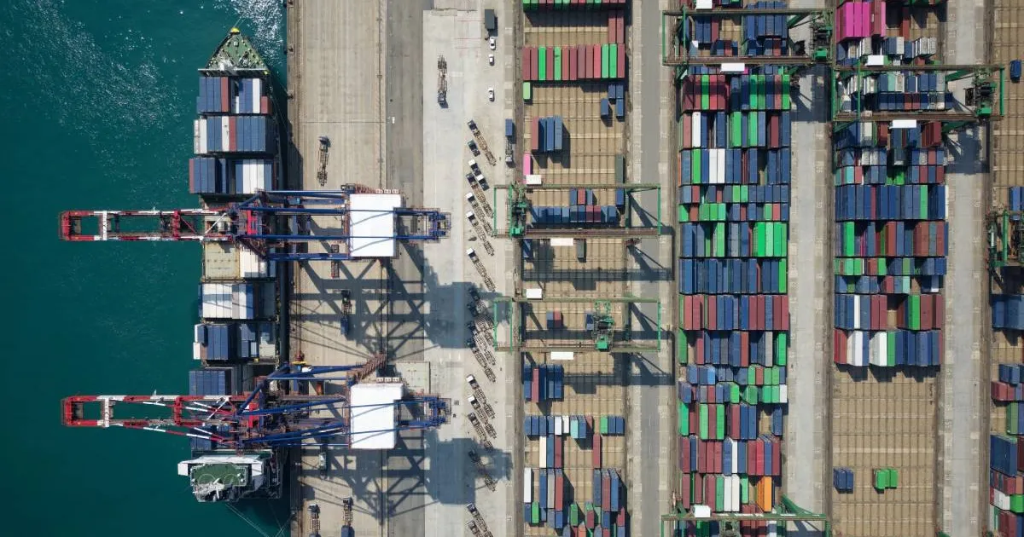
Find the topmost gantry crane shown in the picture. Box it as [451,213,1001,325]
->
[663,1,832,84]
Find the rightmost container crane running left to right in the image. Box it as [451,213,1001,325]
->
[828,56,1002,135]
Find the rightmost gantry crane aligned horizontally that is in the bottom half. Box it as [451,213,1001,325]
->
[663,489,832,537]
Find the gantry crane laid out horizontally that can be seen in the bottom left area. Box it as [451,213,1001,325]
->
[61,342,460,452]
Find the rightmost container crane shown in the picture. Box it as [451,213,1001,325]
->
[986,210,1024,273]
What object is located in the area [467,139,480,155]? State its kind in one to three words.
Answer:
vehicle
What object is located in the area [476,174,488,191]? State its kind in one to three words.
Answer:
vehicle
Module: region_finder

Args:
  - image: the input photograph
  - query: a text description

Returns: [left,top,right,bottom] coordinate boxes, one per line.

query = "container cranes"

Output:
[986,210,1024,273]
[828,56,1002,135]
[61,173,460,272]
[491,286,660,359]
[663,489,832,537]
[491,173,659,246]
[663,1,832,84]
[61,342,460,452]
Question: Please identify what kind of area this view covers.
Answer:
port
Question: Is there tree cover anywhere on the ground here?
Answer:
No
